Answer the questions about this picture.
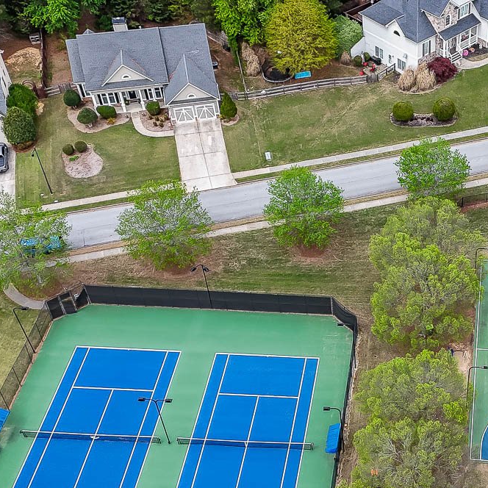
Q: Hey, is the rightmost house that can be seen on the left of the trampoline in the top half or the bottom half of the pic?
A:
top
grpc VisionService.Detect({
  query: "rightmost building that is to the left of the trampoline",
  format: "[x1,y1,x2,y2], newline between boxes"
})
[61,13,222,125]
